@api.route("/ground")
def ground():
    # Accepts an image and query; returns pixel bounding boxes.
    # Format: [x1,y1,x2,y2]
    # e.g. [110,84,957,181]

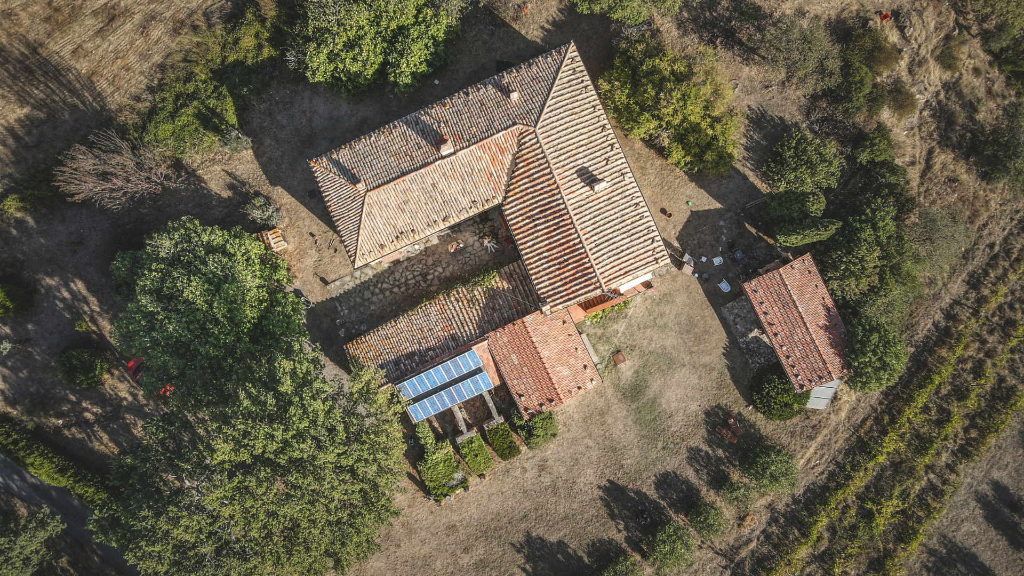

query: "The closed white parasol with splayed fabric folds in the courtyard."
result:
[483,234,499,256]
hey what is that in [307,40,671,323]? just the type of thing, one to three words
house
